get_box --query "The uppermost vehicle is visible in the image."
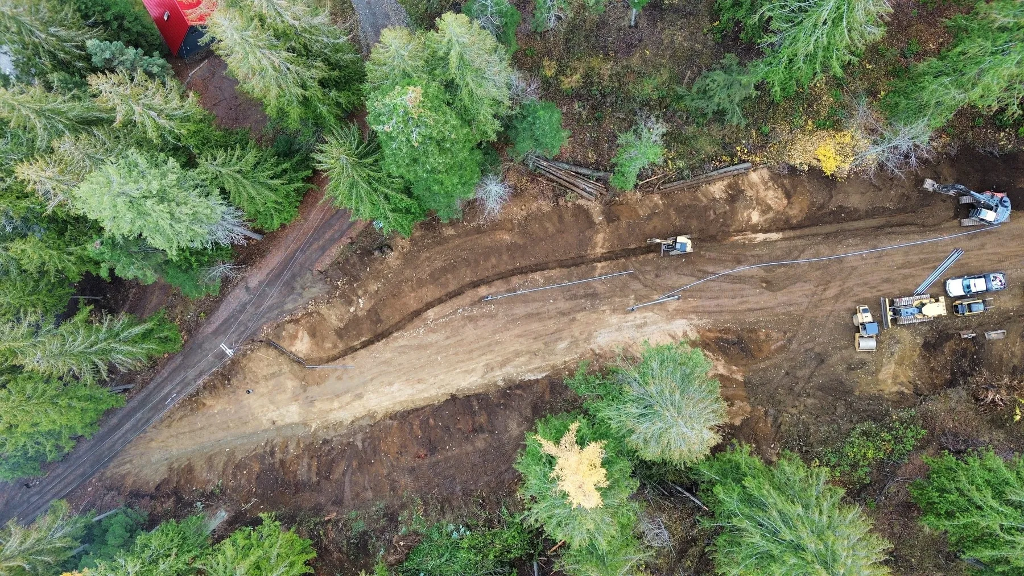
[919,175,1015,227]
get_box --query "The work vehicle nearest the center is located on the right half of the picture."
[644,234,694,258]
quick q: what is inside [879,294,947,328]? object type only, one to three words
work vehicle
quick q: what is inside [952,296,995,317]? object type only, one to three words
work vehicle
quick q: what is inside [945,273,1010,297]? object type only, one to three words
truck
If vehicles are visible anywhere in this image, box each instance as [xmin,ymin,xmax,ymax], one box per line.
[919,175,1015,227]
[879,294,947,328]
[952,296,995,317]
[644,234,694,258]
[945,273,1010,297]
[844,303,879,353]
